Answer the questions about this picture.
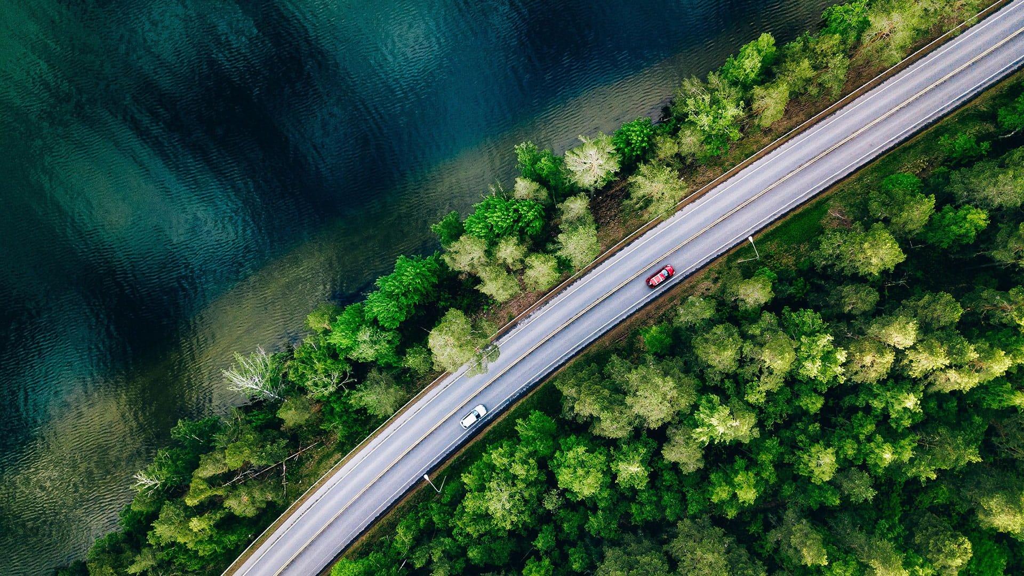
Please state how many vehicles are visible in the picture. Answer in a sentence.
The picture shows 2 vehicles.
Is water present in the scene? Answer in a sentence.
Yes, there is water in the image.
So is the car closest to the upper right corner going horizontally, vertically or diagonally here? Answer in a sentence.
The car closest to the upper right corner runs diagonally in the image.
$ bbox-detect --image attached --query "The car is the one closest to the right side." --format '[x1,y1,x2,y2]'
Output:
[647,266,674,288]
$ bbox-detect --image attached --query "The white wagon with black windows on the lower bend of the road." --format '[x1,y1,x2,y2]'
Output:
[460,405,487,429]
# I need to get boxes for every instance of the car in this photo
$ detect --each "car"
[647,266,674,288]
[460,405,487,429]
